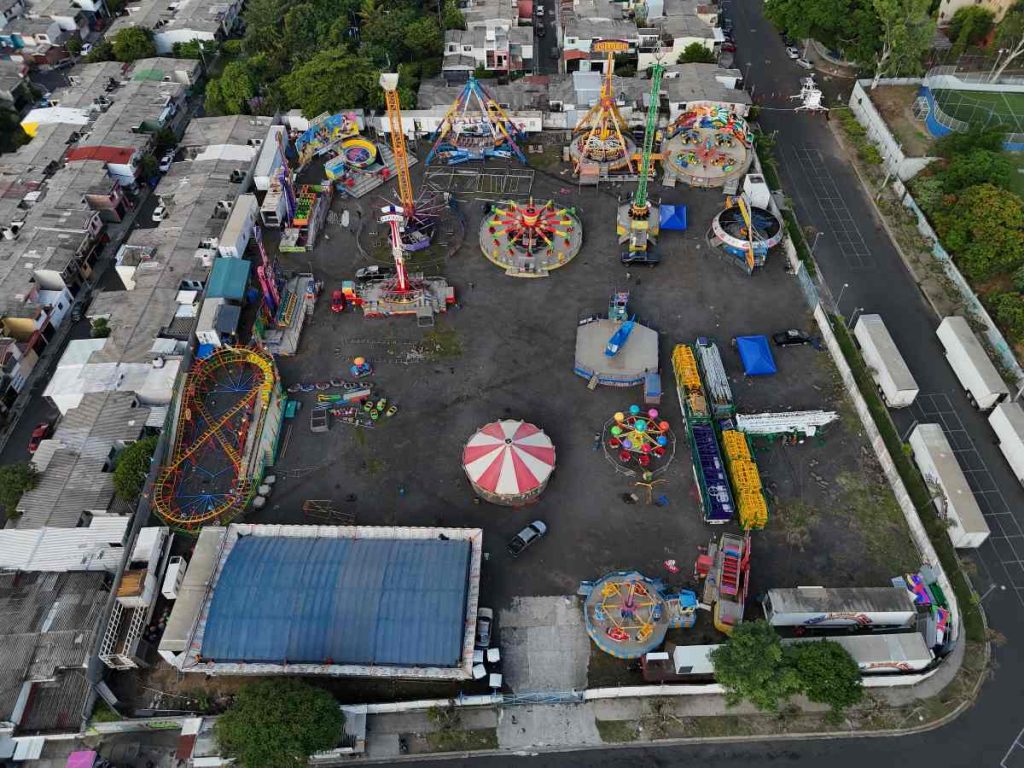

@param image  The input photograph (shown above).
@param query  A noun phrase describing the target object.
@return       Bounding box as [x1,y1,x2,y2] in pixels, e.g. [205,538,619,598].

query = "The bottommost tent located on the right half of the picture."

[733,335,776,387]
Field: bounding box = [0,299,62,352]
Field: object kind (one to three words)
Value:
house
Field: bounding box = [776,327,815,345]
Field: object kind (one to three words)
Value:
car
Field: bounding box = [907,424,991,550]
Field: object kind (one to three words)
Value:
trailer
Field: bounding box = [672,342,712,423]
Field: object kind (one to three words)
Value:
trailer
